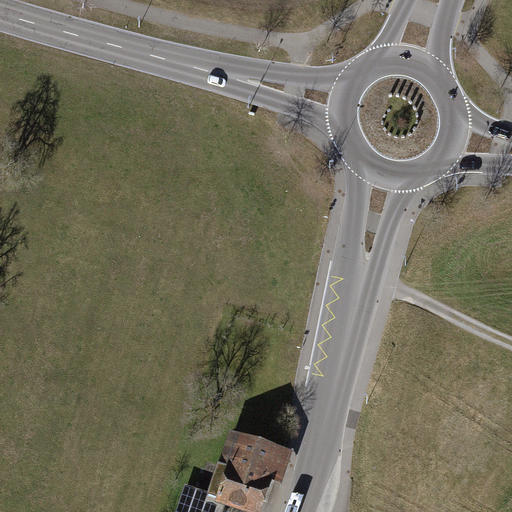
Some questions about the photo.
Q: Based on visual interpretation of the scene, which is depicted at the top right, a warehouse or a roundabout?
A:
roundabout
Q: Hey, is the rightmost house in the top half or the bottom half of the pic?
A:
bottom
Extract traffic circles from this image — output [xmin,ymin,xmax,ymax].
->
[326,42,472,194]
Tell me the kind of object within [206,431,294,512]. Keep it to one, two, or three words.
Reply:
house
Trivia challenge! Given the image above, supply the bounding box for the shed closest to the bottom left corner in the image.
[176,484,218,512]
